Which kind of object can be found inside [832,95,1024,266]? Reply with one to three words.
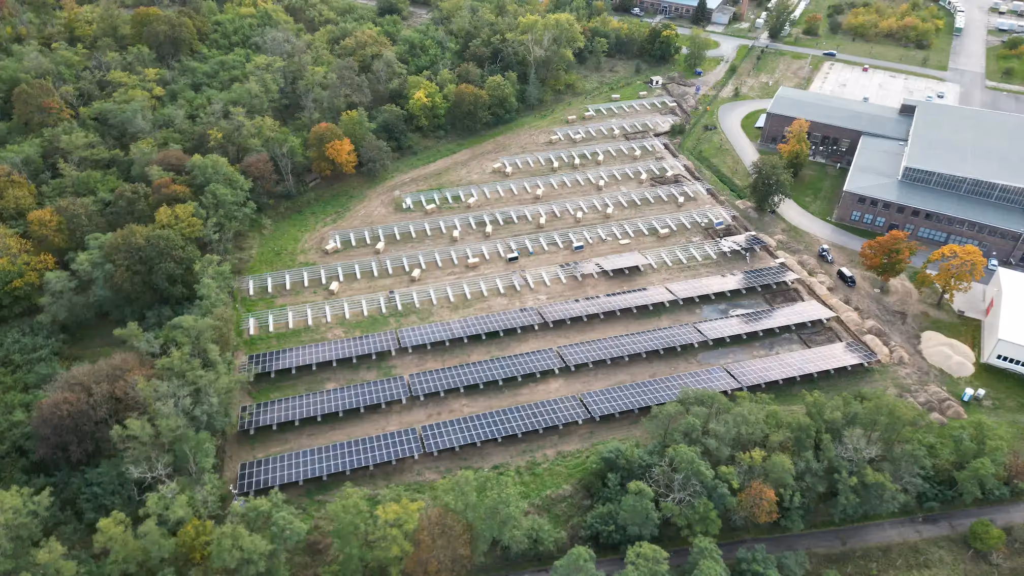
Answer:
building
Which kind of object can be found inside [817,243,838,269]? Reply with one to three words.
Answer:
work vehicle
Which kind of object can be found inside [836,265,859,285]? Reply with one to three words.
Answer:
vehicle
